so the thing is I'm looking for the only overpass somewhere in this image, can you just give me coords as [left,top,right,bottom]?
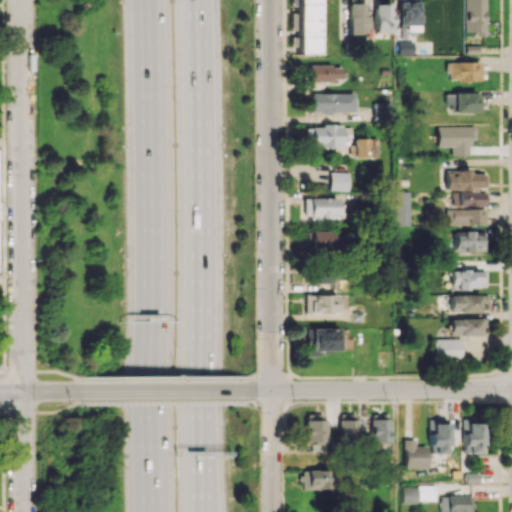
[73,376,256,406]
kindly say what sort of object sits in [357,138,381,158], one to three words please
building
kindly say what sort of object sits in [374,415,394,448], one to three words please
house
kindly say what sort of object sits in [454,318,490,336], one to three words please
house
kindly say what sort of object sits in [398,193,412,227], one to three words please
shed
